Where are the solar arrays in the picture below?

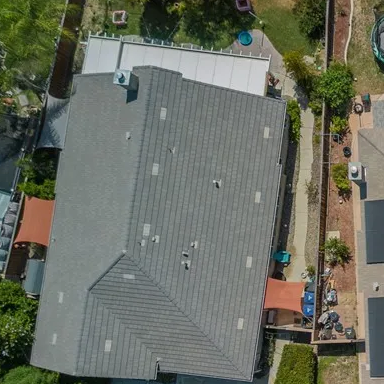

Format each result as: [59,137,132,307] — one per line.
[367,298,384,377]
[364,199,384,263]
